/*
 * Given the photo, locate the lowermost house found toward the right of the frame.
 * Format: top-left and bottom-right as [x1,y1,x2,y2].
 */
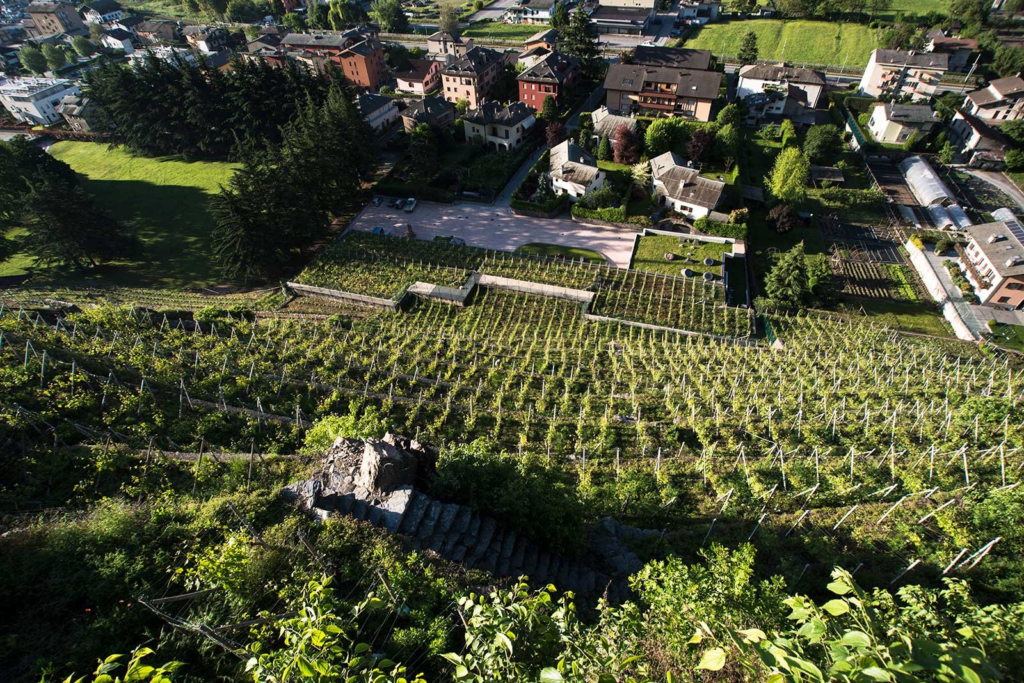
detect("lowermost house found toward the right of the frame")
[944,227,1024,306]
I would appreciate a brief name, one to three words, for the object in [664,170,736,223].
house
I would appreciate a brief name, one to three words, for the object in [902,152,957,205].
greenhouse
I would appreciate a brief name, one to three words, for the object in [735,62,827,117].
house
